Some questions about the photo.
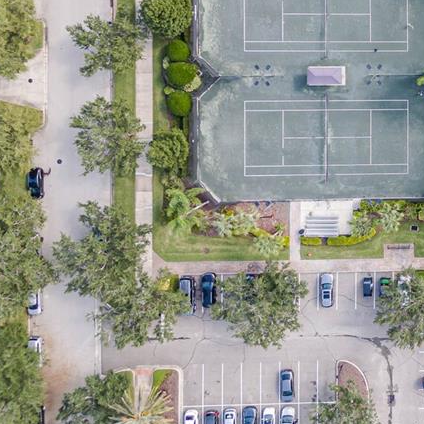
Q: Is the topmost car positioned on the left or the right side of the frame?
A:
left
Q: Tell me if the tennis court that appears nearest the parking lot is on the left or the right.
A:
right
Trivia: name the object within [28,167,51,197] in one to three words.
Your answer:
car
